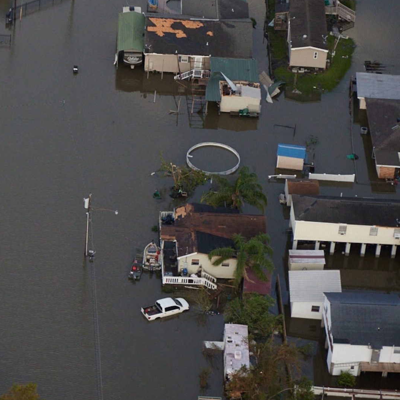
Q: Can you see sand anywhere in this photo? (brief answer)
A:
No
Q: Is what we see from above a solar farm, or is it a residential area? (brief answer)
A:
residential area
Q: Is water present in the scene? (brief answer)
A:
Yes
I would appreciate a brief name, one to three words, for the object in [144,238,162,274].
boat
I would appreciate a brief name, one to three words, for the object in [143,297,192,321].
truck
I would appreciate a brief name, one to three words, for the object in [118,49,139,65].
camper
